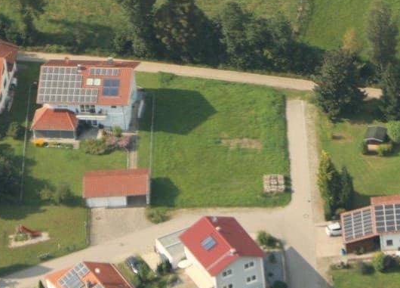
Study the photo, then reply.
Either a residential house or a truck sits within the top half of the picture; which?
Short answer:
residential house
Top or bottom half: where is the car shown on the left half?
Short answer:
bottom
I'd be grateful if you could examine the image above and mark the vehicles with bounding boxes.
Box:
[122,255,146,275]
[321,222,344,237]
